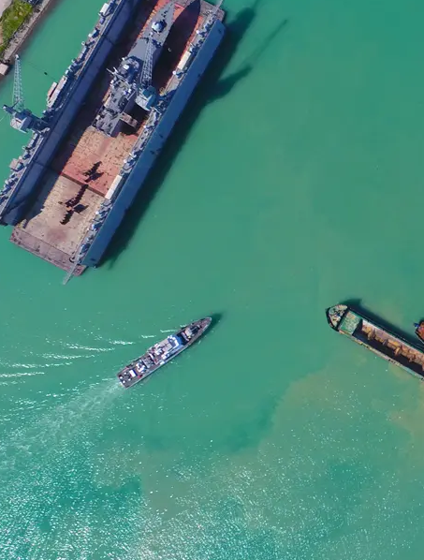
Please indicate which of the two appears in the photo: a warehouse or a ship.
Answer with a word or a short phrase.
ship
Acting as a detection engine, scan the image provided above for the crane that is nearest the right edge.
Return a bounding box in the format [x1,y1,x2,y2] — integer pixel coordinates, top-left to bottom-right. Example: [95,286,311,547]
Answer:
[135,32,166,117]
